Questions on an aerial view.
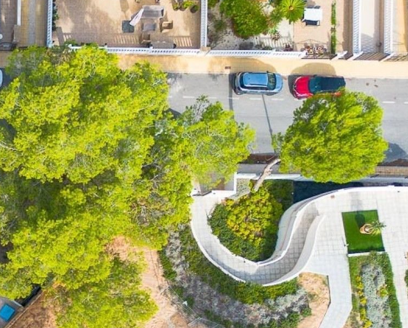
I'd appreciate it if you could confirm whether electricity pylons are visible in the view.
No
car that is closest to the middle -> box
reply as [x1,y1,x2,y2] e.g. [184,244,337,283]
[231,67,280,97]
